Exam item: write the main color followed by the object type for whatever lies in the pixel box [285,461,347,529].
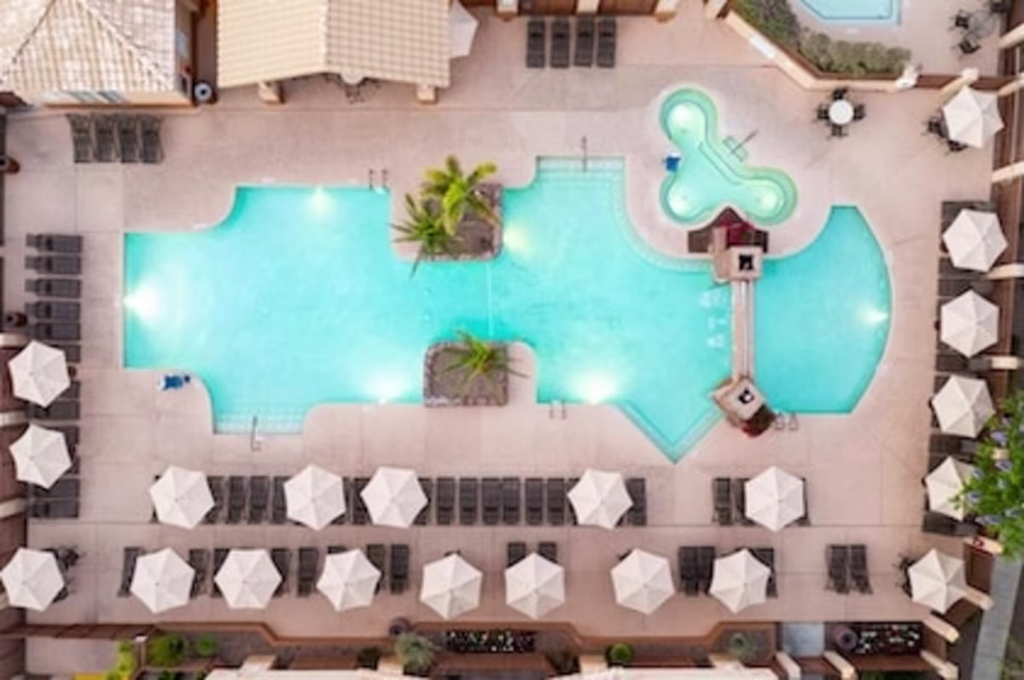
white umbrella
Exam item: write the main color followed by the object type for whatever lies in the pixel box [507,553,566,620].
white umbrella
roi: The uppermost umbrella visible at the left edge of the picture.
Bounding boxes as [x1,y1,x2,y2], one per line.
[9,339,82,406]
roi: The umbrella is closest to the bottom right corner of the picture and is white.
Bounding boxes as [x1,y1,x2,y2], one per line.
[898,545,967,613]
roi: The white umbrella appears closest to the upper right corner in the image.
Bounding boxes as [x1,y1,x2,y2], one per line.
[931,84,1002,149]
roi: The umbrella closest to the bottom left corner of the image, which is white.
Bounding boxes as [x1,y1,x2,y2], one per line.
[1,544,75,609]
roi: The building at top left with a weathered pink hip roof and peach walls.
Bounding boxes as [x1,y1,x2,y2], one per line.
[0,0,194,105]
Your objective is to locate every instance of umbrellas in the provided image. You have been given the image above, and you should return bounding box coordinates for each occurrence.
[928,290,998,358]
[317,547,382,611]
[149,467,216,531]
[931,84,1002,149]
[609,545,672,613]
[450,0,483,59]
[898,545,967,613]
[507,553,566,620]
[921,375,992,438]
[131,544,196,611]
[362,466,429,529]
[1,544,75,609]
[707,546,771,613]
[932,208,1005,271]
[422,551,483,620]
[215,548,283,607]
[9,339,82,406]
[10,426,84,490]
[746,462,804,530]
[565,469,632,532]
[911,452,979,520]
[285,461,347,529]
